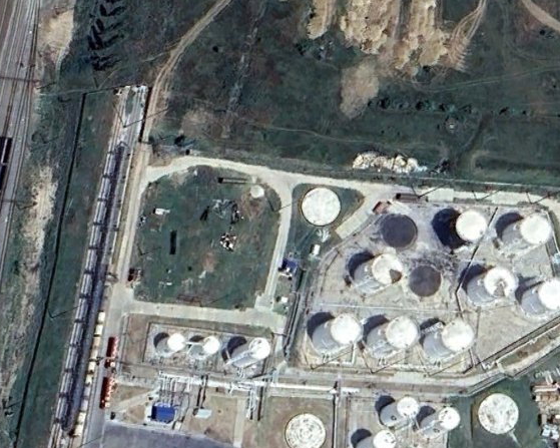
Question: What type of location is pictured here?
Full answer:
What you see here is an industrial area.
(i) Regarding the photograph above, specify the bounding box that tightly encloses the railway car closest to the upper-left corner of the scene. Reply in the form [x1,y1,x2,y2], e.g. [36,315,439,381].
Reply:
[0,137,13,165]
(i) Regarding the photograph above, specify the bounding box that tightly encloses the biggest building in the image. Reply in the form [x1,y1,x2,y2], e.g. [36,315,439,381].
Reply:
[151,406,177,424]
